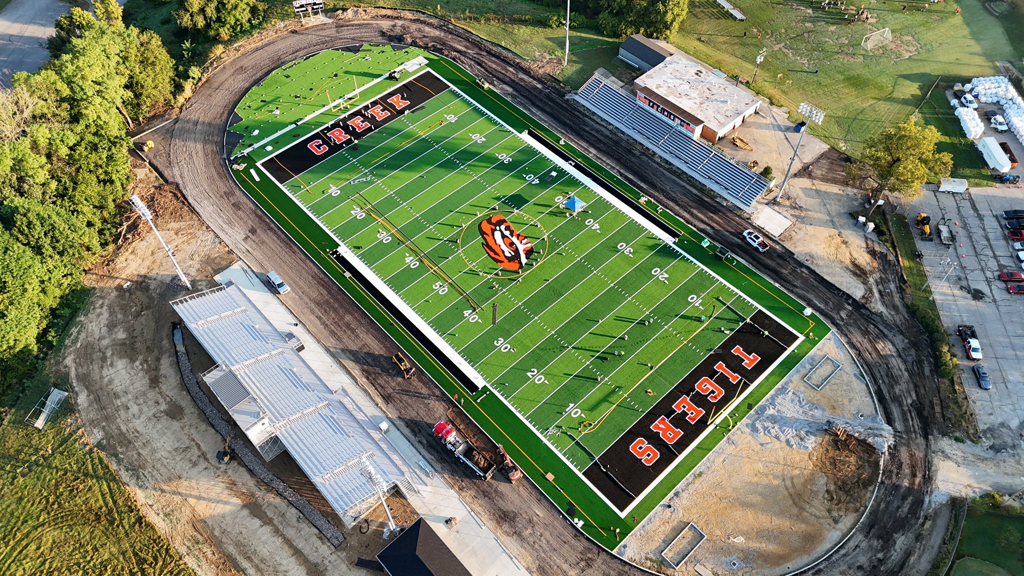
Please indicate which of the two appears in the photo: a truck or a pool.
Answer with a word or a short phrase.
truck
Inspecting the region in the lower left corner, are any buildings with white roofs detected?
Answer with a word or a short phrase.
No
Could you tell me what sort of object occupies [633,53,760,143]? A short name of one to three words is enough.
building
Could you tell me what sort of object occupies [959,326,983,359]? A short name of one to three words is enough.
truck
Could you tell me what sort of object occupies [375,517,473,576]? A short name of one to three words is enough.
building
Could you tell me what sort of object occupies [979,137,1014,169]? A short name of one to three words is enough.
trailer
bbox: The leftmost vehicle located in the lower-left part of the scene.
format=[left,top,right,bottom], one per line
[216,437,237,471]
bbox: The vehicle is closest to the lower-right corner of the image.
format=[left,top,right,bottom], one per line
[973,366,994,391]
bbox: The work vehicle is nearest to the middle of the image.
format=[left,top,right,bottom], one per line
[390,351,417,382]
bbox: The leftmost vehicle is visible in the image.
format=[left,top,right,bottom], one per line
[138,137,153,150]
